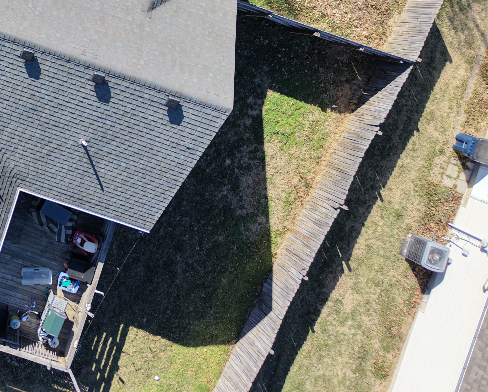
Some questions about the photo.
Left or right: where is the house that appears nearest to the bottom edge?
right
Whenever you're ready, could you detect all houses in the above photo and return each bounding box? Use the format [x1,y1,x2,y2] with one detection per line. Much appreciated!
[383,192,488,392]
[0,0,239,248]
